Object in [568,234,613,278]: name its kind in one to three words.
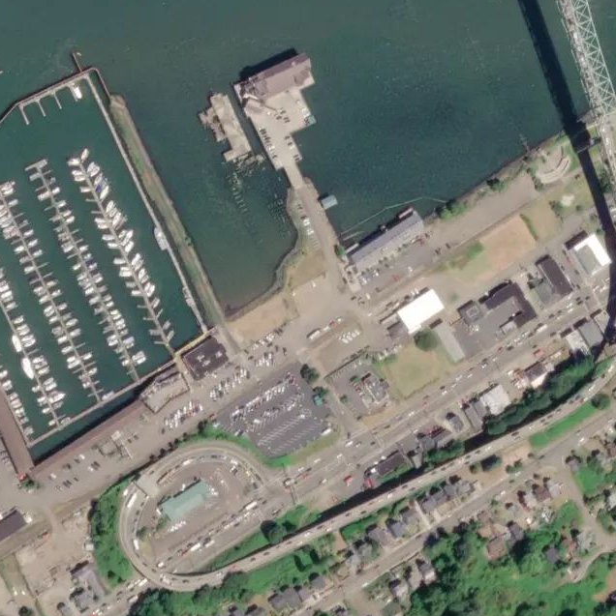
building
